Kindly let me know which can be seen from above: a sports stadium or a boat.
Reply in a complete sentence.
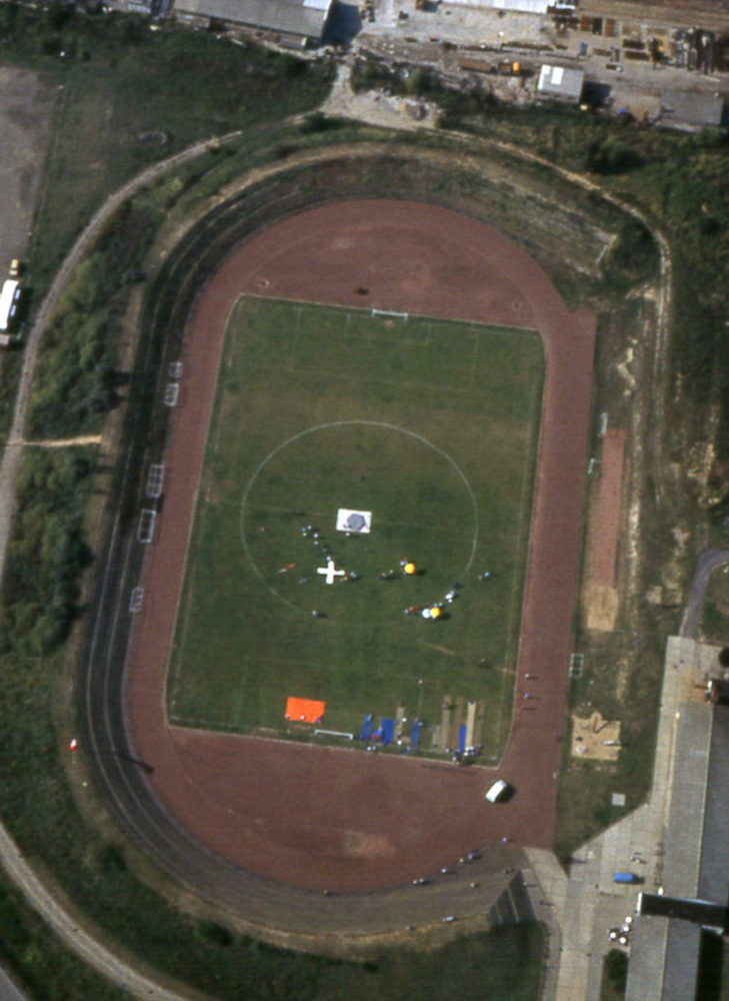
Looking from above, you can make out a sports stadium.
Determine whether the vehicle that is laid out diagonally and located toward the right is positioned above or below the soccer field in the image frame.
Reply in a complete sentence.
It's below the soccer field that the vehicle that is laid out diagonally and located toward the right shows up.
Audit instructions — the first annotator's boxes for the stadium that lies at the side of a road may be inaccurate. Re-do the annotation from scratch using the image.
[75,155,609,931]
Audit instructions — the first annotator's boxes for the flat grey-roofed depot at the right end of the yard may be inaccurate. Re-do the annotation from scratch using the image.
[656,92,724,132]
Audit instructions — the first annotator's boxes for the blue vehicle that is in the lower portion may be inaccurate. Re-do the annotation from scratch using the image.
[613,872,635,886]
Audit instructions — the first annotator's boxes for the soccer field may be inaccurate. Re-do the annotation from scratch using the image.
[163,294,545,768]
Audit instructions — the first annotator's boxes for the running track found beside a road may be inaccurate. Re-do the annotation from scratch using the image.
[124,197,597,896]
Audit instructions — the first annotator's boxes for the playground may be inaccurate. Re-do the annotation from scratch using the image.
[572,711,621,762]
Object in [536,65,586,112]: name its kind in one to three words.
shed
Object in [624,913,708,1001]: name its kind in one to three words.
building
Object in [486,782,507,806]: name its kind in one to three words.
vehicle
